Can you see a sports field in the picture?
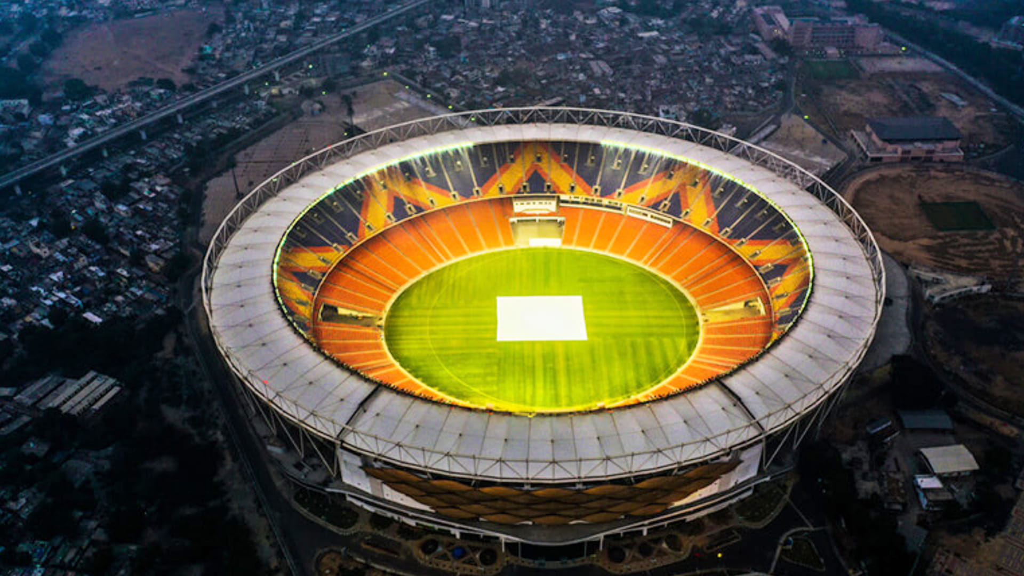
Yes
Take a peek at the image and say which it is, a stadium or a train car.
stadium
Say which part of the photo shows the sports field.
center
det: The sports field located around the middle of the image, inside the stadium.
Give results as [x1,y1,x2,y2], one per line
[384,247,698,411]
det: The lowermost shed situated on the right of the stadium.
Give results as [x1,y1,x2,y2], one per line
[897,523,928,561]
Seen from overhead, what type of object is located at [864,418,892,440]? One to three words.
shed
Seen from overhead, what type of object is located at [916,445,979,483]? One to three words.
shed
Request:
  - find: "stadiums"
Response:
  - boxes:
[205,107,885,559]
